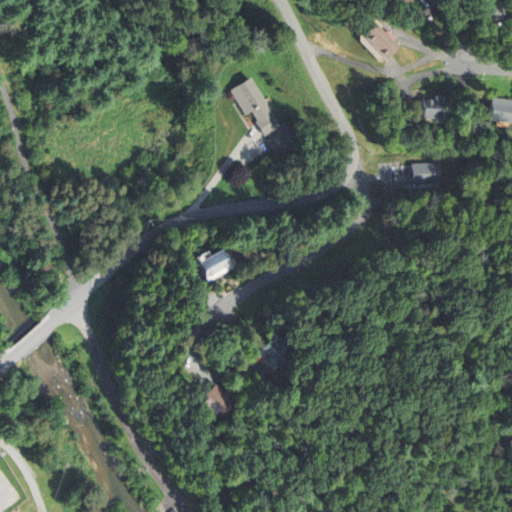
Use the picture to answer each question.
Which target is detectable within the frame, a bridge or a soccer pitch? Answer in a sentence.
The image shows a bridge.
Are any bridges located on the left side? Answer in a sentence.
Yes, you'll find a bridge on the left side.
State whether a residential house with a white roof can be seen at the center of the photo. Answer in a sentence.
Yes, looking at the center of the photo, one can make out a residential house with a white roof.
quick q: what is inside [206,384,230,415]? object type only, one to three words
house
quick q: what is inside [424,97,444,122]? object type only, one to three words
house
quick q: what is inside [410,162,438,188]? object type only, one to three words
building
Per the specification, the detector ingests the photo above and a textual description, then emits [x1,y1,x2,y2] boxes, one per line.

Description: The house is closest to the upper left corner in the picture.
[230,77,278,134]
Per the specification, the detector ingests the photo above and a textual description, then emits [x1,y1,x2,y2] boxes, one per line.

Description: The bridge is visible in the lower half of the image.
[4,305,66,364]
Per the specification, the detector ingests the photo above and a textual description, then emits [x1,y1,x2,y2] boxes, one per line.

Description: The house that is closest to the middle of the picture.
[200,250,233,282]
